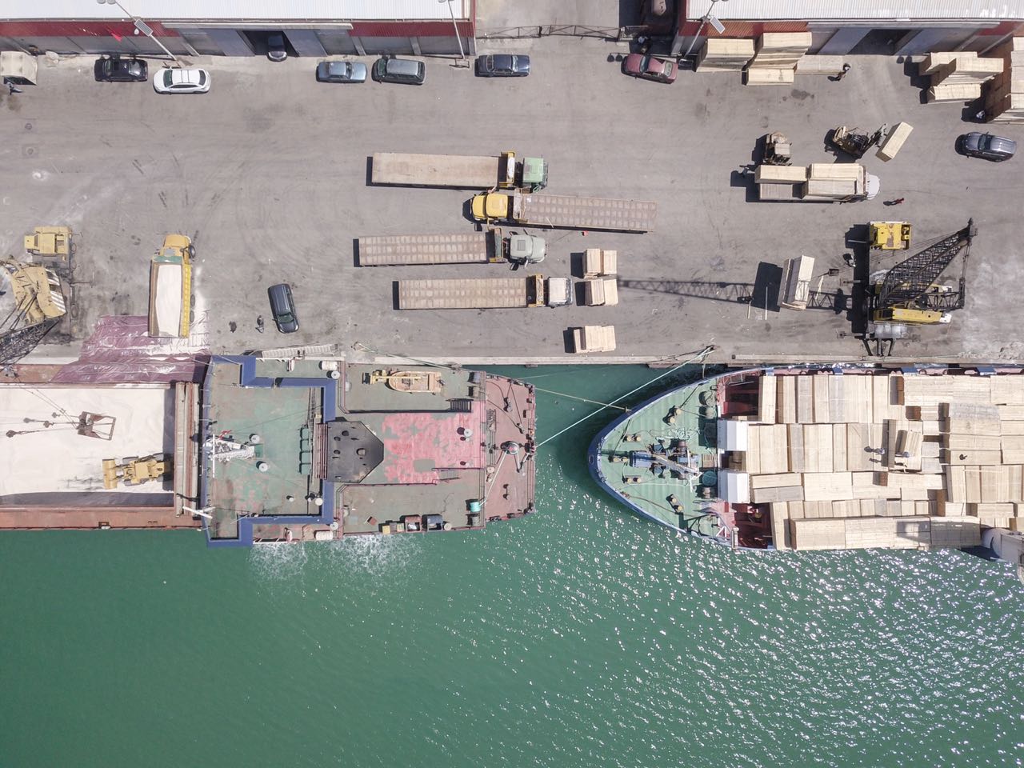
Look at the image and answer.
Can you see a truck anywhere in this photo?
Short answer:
Yes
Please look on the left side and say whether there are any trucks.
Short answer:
Yes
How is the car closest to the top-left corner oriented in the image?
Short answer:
horizontally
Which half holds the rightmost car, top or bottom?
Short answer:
top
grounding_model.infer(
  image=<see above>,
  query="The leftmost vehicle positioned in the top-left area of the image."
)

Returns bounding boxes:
[96,55,152,85]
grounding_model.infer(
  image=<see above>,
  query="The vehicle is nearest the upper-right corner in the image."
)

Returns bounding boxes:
[953,132,1016,164]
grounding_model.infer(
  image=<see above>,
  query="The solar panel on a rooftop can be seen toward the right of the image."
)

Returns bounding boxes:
[705,14,727,37]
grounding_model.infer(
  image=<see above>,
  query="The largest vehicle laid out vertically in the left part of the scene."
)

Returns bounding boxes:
[148,235,196,338]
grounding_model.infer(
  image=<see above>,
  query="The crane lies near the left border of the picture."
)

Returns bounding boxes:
[0,227,97,370]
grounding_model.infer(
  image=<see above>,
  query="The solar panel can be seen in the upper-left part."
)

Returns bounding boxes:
[133,17,155,39]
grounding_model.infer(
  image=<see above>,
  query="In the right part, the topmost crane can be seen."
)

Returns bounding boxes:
[797,204,969,357]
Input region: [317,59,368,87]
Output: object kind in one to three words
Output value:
car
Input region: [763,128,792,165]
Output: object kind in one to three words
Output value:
work vehicle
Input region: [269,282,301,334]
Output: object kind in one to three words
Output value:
car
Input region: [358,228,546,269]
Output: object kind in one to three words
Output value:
truck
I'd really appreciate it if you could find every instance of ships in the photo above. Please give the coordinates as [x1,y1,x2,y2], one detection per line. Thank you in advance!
[0,356,536,547]
[591,368,1024,570]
